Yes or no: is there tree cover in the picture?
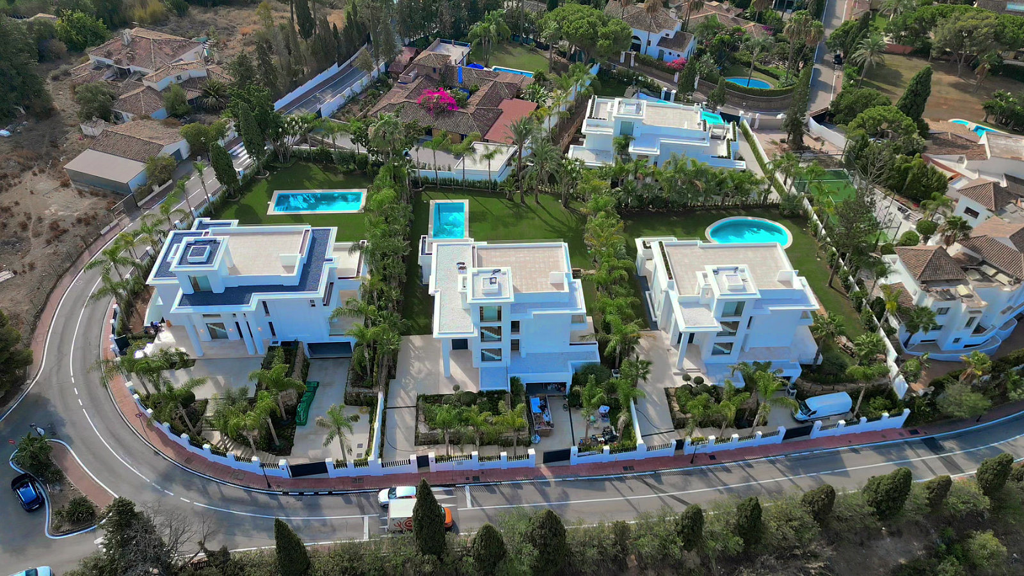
Yes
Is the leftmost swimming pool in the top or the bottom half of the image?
top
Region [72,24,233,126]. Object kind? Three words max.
house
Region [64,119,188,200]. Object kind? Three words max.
shed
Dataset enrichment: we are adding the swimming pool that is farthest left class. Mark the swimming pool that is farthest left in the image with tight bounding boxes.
[267,187,367,214]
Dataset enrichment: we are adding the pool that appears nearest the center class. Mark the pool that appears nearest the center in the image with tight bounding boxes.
[428,198,469,237]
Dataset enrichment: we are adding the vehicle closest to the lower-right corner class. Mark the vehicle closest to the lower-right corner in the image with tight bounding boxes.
[795,393,860,424]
